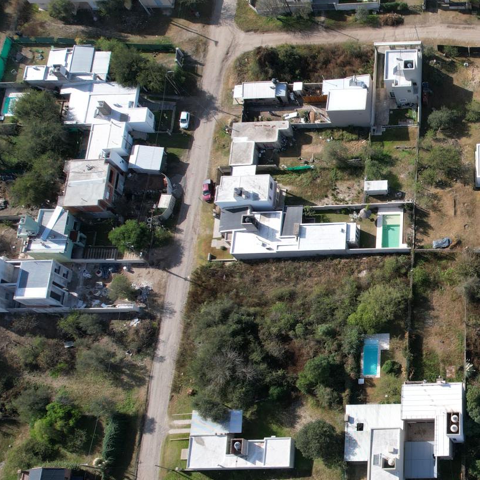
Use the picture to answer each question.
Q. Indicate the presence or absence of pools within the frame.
Yes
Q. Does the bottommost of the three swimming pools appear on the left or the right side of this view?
right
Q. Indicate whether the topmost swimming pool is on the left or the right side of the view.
left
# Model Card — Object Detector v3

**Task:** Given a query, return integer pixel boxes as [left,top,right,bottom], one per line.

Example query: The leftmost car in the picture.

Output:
[178,111,191,131]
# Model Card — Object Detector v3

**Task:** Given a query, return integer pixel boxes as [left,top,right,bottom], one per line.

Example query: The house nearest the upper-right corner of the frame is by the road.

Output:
[385,50,420,104]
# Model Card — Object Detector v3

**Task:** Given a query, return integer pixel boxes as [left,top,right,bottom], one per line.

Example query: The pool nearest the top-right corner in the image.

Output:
[376,207,404,248]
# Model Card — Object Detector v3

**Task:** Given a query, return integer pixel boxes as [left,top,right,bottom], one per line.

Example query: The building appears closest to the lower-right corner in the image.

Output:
[344,382,466,480]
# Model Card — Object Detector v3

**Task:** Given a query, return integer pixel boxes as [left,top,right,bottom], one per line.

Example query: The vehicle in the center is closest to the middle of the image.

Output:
[201,181,215,202]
